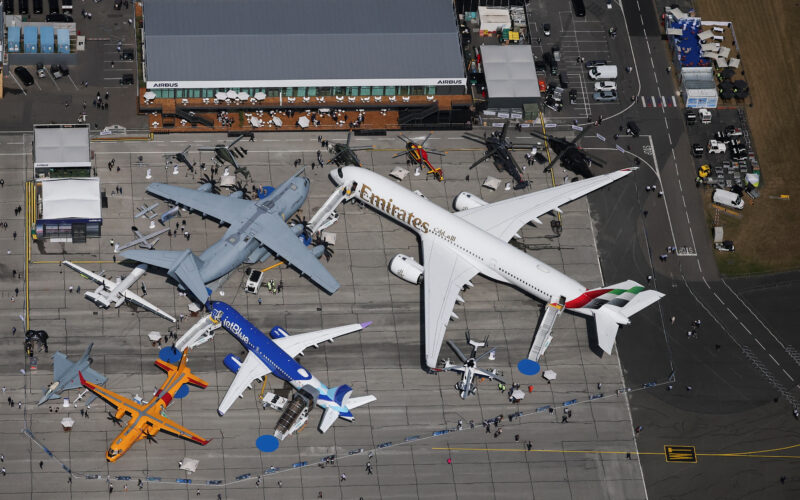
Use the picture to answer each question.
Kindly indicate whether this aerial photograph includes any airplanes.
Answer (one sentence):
Yes, this view includes an airplane.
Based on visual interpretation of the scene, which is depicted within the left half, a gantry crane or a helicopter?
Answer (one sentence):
What appears within the left half is a helicopter.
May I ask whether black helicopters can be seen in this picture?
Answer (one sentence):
Yes, I can see a black helicopter in this picture.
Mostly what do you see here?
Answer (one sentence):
The bulk of the photo consists of paved ground.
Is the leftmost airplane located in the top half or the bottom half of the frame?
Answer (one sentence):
The bottom half of the photo is where the leftmost airplane is.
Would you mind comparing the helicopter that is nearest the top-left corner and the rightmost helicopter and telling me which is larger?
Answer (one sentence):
The rightmost helicopter takes up more space than the helicopter that is nearest the top-left corner does.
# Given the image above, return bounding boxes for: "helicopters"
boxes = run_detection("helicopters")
[163,146,198,176]
[534,127,608,188]
[434,331,505,398]
[392,134,445,180]
[464,120,542,187]
[320,131,377,177]
[197,135,259,184]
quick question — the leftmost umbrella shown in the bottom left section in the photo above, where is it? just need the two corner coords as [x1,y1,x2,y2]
[60,416,76,432]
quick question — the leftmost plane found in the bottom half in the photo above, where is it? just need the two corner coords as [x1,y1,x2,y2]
[34,343,112,408]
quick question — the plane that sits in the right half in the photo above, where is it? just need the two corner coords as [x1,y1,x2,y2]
[329,169,668,373]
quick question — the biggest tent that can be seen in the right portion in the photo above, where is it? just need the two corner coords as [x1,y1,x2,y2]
[479,45,541,108]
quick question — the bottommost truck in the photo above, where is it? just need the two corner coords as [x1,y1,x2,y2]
[259,388,288,412]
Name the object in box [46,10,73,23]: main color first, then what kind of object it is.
black vehicle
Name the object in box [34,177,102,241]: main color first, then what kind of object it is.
white tent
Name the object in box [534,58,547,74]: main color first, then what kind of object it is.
black vehicle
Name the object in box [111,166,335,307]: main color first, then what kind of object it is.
gray airplane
